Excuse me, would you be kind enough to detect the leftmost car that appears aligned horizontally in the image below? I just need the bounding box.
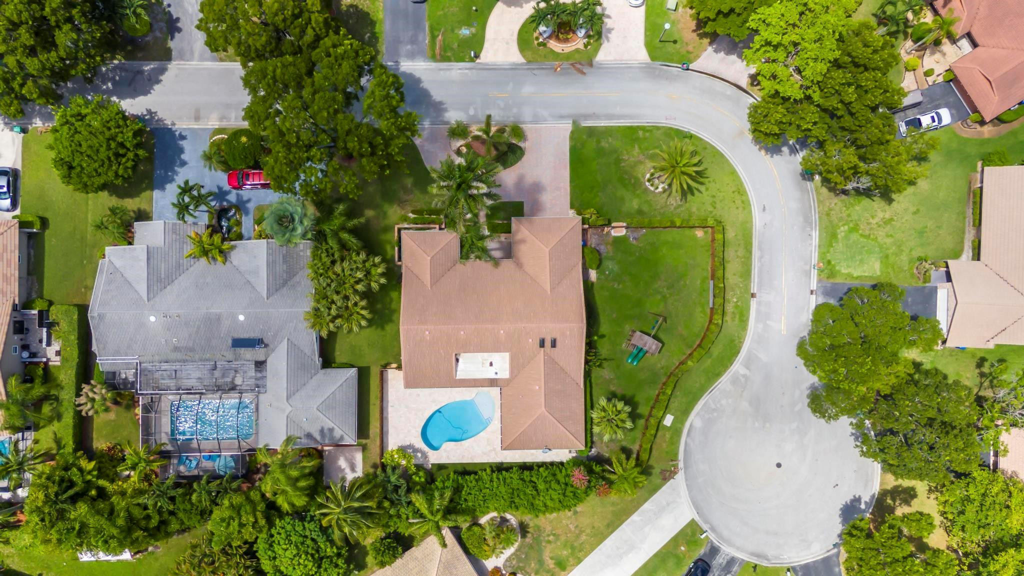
[226,168,269,189]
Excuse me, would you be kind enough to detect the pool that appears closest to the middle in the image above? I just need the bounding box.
[418,388,498,453]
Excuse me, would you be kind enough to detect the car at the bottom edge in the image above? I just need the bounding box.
[686,556,713,576]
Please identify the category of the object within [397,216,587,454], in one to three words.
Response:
house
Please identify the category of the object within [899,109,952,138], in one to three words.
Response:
truck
